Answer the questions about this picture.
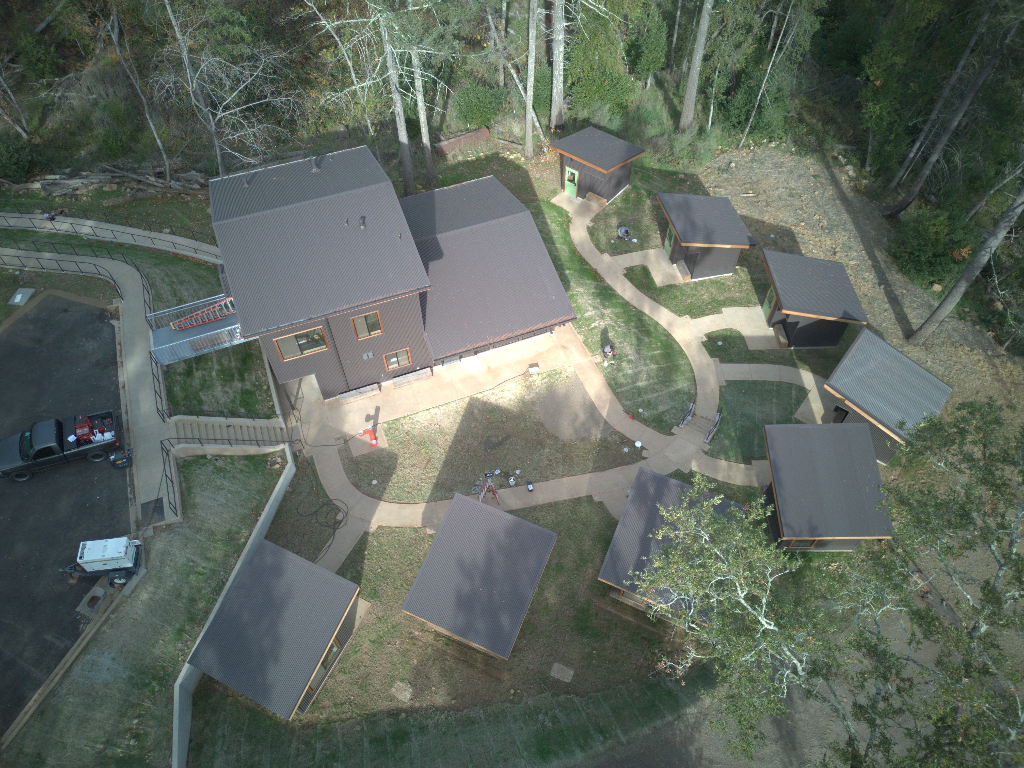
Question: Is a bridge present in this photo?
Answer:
Yes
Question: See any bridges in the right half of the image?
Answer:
No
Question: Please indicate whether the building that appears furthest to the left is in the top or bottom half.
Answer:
bottom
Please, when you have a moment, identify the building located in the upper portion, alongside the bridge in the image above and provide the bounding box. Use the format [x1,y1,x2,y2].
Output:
[210,143,577,401]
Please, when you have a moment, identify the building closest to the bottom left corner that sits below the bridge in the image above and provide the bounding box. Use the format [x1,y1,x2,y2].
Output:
[188,539,361,721]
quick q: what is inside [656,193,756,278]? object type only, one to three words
building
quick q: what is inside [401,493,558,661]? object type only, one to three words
building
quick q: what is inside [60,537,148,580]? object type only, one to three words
trailer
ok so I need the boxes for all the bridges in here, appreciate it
[143,291,248,369]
